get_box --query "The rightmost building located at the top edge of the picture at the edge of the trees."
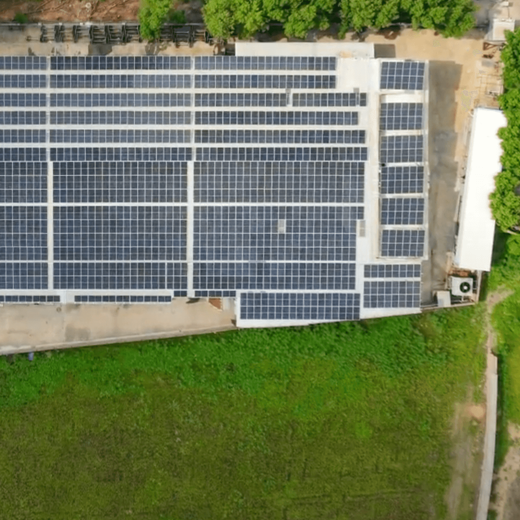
[484,19,515,43]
